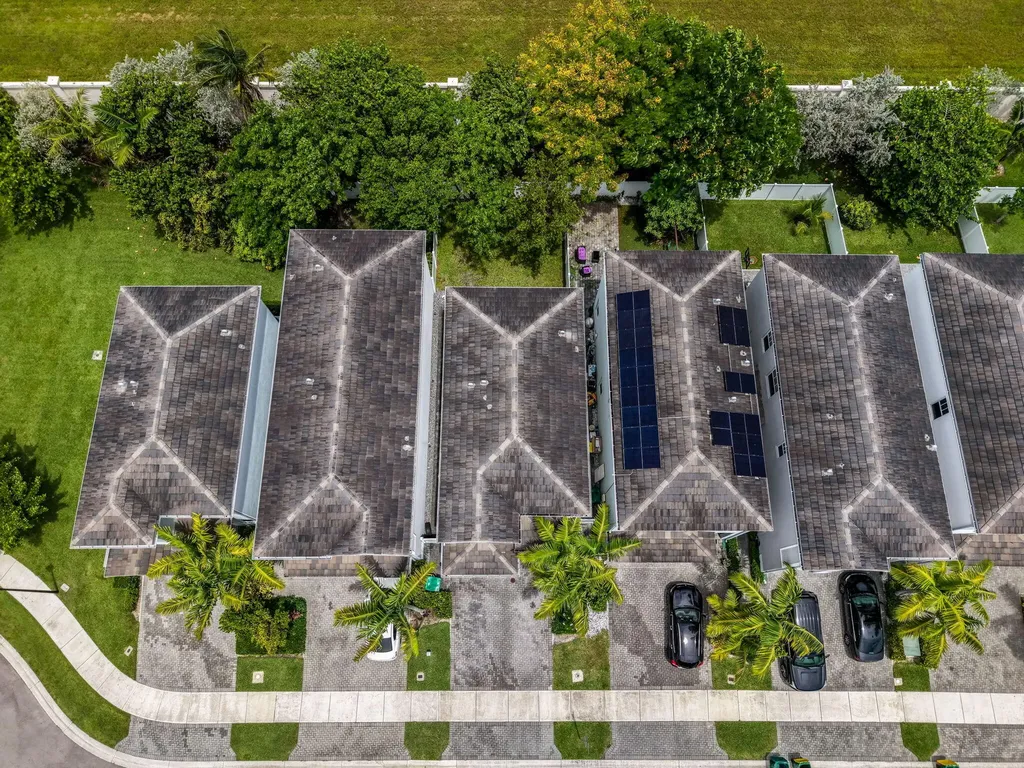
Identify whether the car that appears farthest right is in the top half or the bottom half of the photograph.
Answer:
bottom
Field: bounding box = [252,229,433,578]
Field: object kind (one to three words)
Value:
house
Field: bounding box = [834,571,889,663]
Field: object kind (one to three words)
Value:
car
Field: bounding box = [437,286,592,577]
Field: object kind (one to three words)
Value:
house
